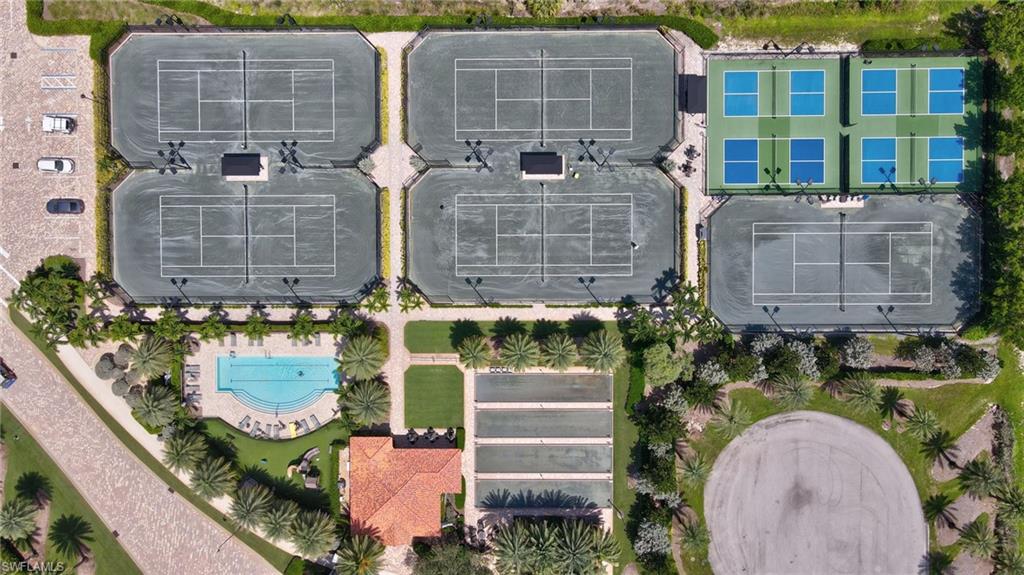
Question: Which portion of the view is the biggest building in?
bottom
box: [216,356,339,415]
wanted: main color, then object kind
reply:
blue swimming pool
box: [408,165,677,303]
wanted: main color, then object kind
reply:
gray tennis court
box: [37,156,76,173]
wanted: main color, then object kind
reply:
white car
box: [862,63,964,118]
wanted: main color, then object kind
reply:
blue sports court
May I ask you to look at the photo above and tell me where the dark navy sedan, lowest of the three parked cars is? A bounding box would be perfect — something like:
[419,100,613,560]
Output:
[47,198,85,214]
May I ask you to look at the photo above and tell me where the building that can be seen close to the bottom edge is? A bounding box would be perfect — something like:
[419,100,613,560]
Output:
[350,436,461,548]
